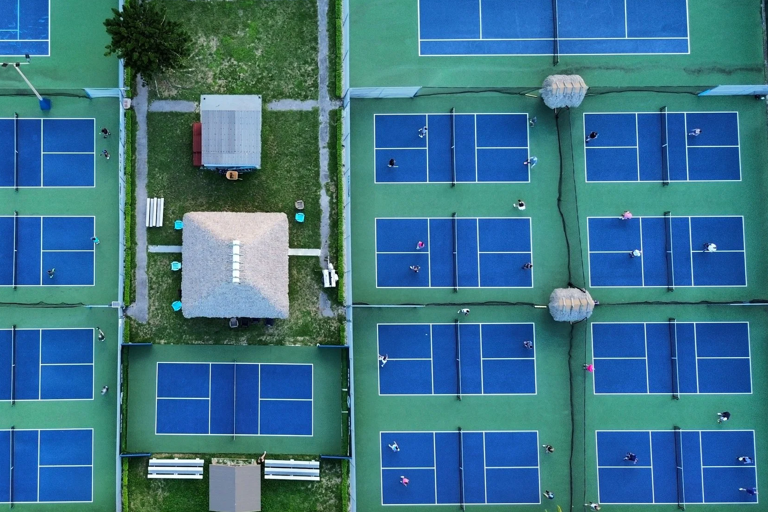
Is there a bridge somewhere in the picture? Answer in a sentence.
No, no bridge is visible in the scene.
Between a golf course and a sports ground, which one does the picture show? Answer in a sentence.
It's a sports ground.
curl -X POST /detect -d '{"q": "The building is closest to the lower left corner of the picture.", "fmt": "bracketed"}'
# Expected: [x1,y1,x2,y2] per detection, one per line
[209,460,261,512]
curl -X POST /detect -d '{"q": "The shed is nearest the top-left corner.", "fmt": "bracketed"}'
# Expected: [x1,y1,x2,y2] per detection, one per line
[200,95,262,172]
